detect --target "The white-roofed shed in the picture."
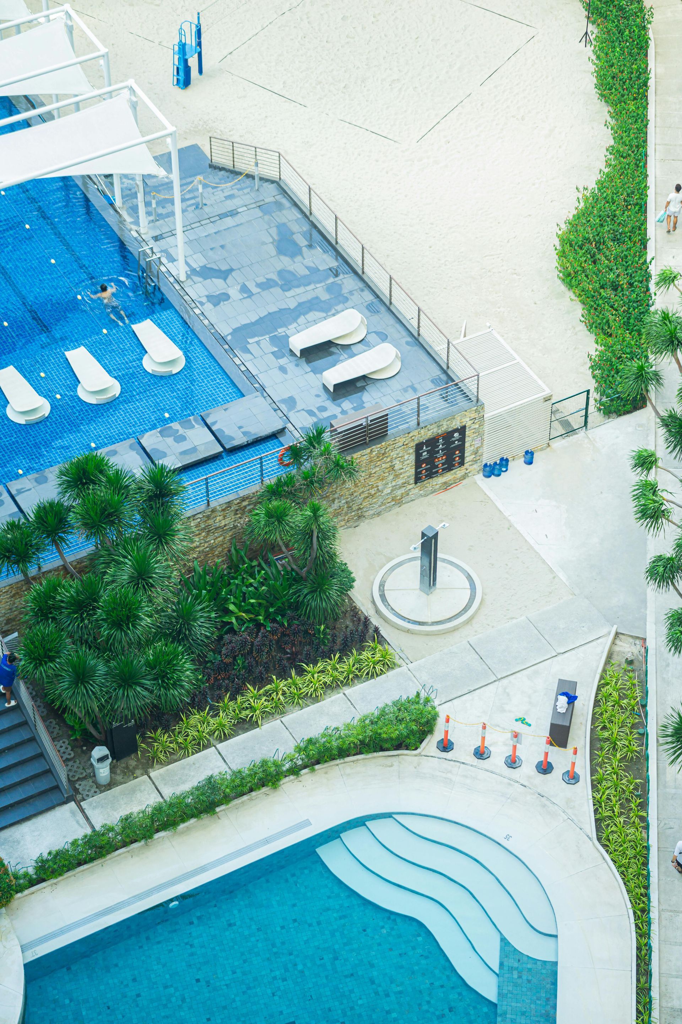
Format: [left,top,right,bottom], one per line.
[436,329,557,475]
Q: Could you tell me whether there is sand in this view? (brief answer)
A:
Yes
